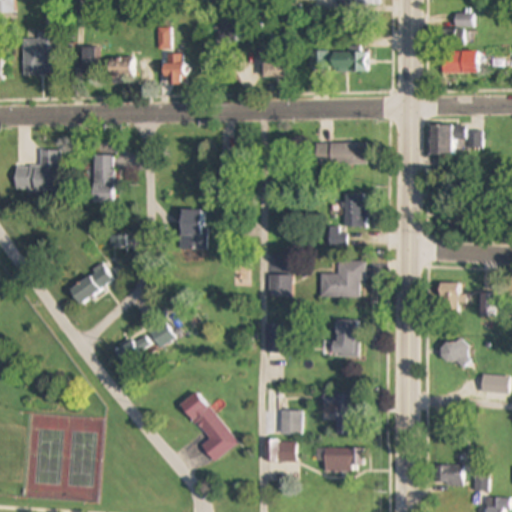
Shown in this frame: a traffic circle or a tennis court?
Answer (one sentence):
Visible in the photo is a tennis court.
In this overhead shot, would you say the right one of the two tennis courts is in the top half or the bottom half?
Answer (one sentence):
It is in the bottom half that the right one of the two tennis courts appears.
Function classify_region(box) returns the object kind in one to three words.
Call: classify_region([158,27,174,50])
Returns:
building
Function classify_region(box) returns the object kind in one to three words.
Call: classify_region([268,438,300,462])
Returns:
building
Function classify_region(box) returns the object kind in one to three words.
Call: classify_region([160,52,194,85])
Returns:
house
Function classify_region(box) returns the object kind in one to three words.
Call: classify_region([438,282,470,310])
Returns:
house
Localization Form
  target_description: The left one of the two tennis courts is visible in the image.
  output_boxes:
[26,414,68,499]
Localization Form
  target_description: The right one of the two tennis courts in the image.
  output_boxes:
[63,416,104,502]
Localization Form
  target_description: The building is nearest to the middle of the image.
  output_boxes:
[268,274,295,297]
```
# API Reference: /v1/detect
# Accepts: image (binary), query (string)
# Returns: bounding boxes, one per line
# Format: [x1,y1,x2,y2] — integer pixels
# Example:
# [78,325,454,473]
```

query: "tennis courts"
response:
[26,414,68,499]
[63,416,104,502]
